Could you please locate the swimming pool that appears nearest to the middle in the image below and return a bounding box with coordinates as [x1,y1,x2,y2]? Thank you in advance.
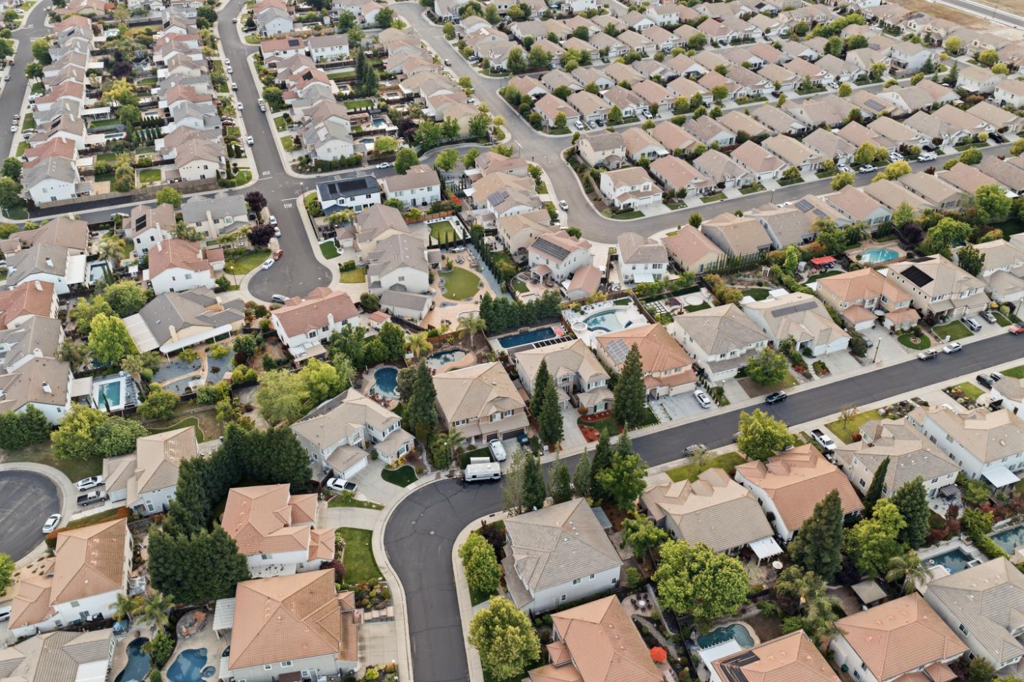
[497,326,556,349]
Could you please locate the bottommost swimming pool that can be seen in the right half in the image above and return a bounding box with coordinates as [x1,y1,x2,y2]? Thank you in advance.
[697,622,757,650]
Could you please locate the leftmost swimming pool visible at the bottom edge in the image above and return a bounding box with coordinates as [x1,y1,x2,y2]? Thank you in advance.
[117,635,154,682]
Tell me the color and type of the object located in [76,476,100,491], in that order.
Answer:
white car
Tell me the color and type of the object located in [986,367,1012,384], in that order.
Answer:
white car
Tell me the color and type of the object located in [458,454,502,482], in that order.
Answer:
white trailer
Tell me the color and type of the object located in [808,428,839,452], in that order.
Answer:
white truck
